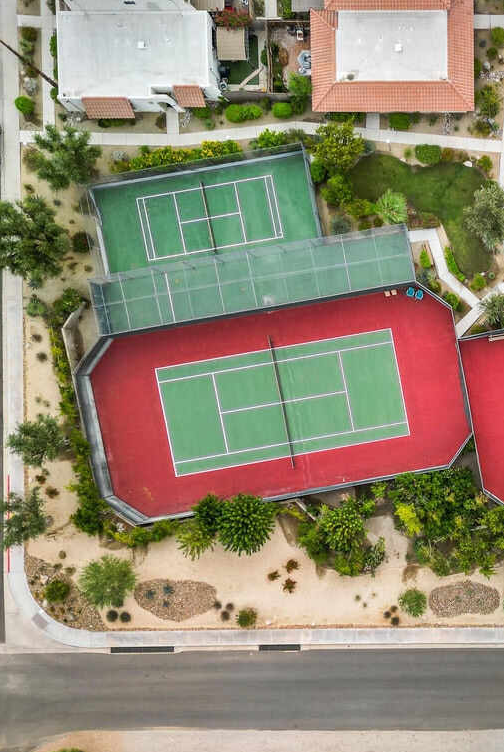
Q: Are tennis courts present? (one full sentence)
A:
Yes, the frame does contain a tennis court.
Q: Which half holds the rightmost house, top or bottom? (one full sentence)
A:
It is in the top half that the rightmost house appears.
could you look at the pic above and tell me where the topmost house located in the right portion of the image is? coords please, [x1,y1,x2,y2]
[311,0,475,115]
